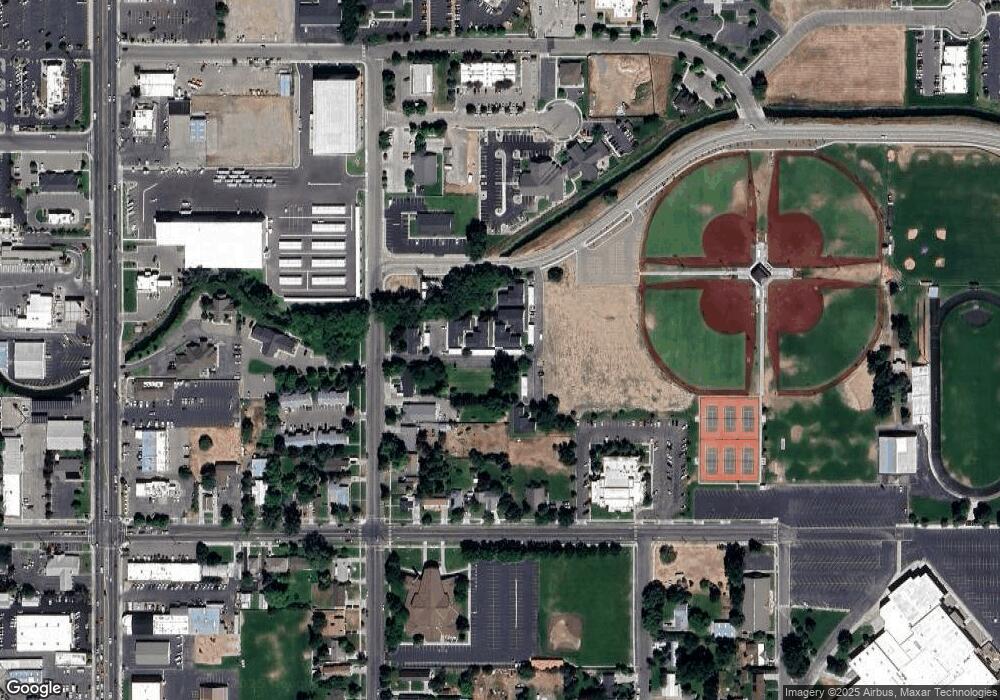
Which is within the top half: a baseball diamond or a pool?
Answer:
baseball diamond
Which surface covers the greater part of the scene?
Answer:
paved ground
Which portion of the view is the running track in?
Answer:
right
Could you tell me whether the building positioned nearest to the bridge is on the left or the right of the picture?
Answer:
right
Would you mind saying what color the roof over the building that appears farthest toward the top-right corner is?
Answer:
white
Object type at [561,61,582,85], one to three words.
house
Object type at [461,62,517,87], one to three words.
building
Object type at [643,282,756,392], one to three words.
baseball field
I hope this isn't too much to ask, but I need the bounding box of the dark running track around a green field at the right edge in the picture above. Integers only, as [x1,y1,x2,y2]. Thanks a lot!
[930,288,1000,498]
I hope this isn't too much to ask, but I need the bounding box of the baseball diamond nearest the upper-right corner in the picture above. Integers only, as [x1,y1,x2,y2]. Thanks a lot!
[769,154,881,266]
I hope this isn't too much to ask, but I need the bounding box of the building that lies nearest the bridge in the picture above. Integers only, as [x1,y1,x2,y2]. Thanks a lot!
[670,84,696,109]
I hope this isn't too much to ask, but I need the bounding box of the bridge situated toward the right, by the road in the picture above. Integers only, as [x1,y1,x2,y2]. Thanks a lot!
[735,96,767,121]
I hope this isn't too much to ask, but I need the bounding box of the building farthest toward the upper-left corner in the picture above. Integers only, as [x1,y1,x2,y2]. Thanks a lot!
[47,62,69,105]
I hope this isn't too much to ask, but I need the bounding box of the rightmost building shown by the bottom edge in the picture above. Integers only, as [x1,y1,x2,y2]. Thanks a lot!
[846,570,1000,700]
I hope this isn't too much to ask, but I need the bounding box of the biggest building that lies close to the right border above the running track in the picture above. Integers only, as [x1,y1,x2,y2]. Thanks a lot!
[942,44,968,93]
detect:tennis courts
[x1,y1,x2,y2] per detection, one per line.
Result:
[742,447,754,474]
[706,406,718,432]
[725,447,735,474]
[742,406,754,432]
[707,447,718,474]
[724,406,735,432]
